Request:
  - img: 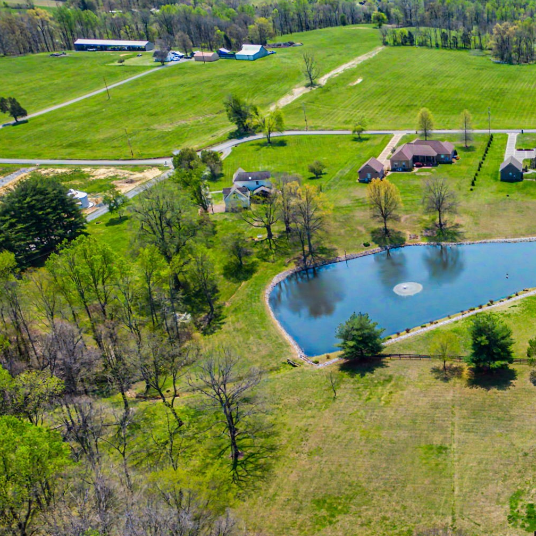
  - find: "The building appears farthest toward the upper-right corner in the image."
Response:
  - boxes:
[498,153,525,181]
